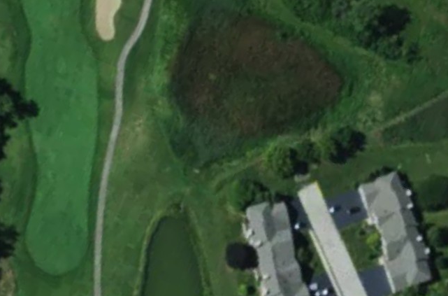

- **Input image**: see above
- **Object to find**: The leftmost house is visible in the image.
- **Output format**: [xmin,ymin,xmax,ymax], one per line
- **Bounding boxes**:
[245,200,310,296]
